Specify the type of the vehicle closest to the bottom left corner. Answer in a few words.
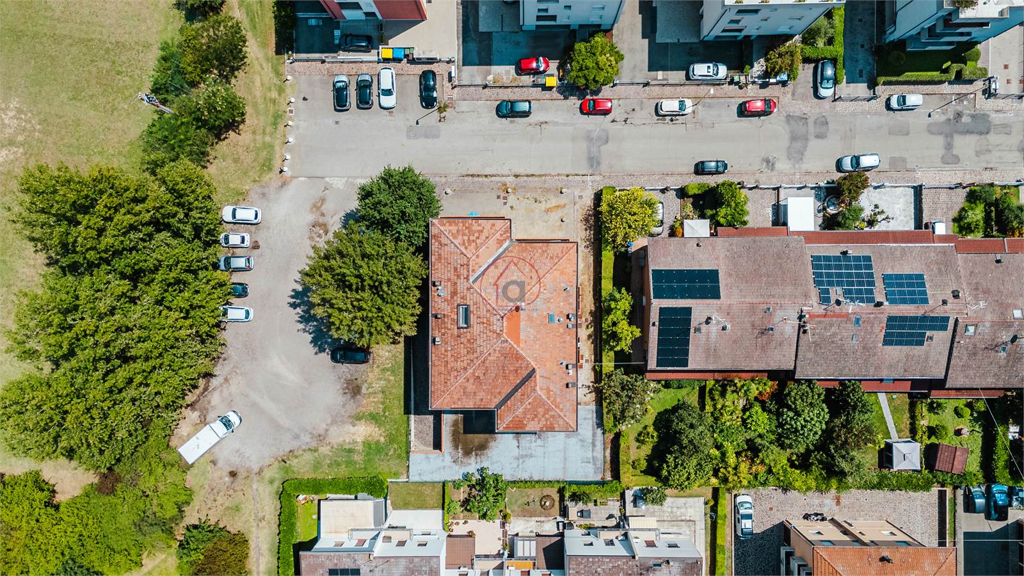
truck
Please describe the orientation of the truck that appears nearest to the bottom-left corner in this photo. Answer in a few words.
diagonally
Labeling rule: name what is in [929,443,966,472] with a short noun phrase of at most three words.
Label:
shed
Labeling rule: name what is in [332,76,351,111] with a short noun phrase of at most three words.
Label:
car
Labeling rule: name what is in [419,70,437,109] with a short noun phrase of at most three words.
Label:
car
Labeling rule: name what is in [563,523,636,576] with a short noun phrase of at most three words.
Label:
house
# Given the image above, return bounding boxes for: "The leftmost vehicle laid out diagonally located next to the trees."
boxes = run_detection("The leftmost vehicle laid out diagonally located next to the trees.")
[173,409,243,471]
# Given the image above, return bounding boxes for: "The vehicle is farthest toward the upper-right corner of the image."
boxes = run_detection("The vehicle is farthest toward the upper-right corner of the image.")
[886,92,923,110]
